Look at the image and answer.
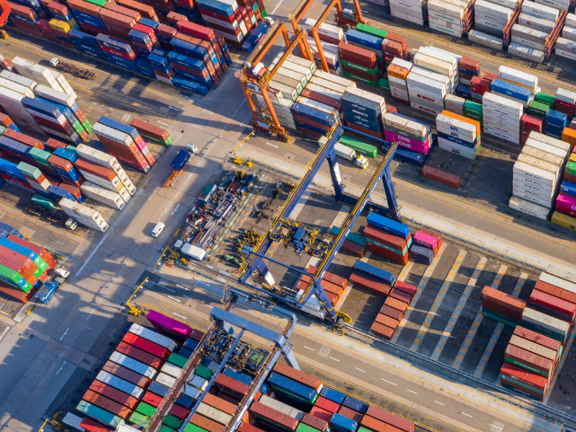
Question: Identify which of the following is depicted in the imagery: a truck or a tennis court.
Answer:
truck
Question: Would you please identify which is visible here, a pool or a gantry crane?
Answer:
gantry crane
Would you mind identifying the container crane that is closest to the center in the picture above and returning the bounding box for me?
[229,116,409,323]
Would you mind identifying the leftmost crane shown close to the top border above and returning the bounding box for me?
[230,15,319,136]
